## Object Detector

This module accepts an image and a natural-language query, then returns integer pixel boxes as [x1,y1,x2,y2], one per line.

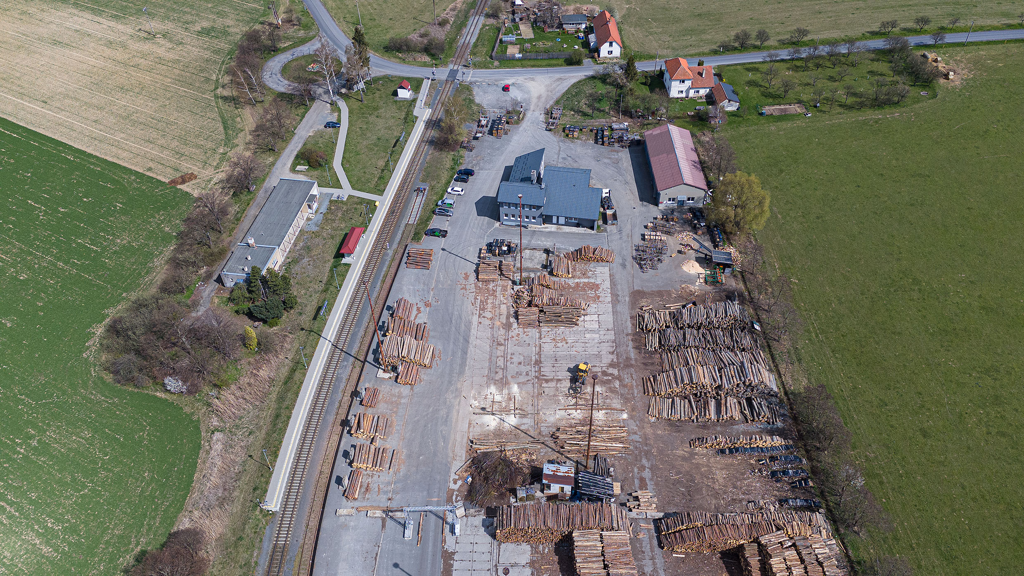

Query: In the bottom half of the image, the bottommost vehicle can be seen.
[576,358,591,392]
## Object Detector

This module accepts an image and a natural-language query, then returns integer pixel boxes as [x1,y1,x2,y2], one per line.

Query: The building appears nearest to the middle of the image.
[497,148,603,231]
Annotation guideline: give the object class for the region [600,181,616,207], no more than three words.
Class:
vehicle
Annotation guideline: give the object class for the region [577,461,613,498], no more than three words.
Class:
shed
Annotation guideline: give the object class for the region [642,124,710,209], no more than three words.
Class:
building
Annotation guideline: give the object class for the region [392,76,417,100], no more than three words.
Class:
house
